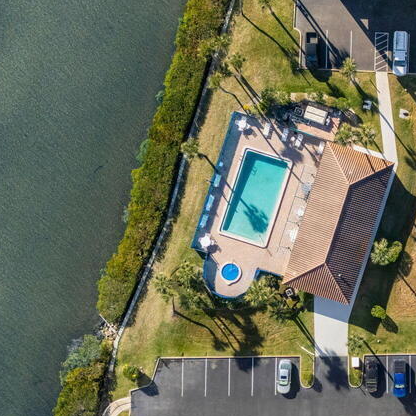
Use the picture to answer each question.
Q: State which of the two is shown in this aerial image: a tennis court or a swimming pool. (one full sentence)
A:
Visible in the photo is a swimming pool.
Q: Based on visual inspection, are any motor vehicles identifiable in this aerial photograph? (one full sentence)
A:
Yes, the photo shows a motor vehicle.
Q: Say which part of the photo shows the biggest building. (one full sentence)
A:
You can find the biggest building in the right area of the picture.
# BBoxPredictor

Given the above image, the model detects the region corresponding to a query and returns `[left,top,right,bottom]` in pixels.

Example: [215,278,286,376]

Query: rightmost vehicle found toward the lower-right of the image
[392,357,408,398]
